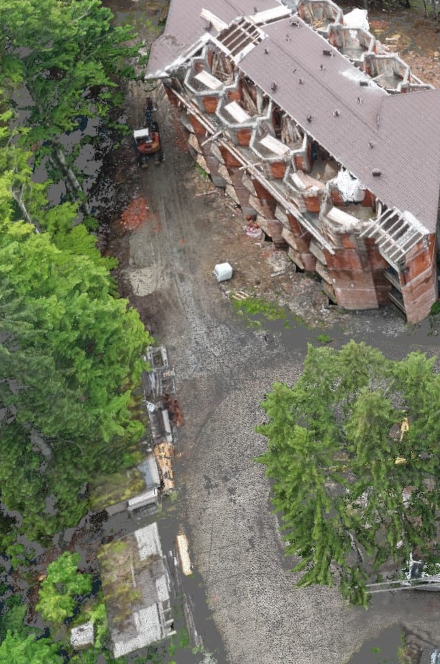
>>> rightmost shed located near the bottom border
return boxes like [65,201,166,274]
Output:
[98,524,185,664]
